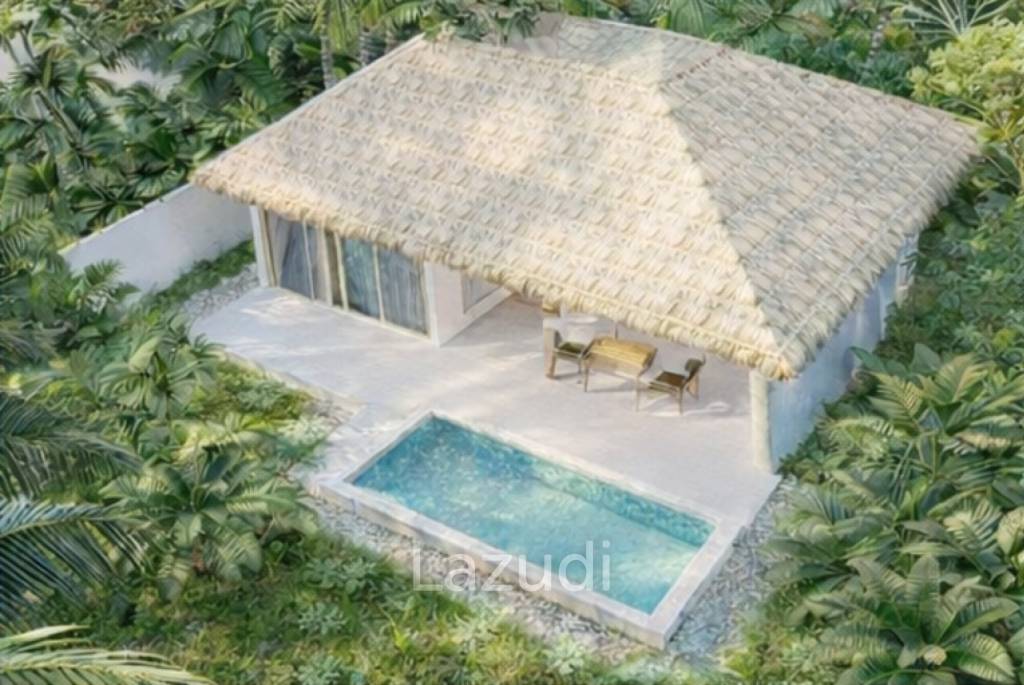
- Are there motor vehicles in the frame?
No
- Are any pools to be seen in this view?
Yes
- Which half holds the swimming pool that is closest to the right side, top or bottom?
bottom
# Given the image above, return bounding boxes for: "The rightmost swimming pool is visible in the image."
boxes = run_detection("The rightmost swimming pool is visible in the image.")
[311,396,744,651]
